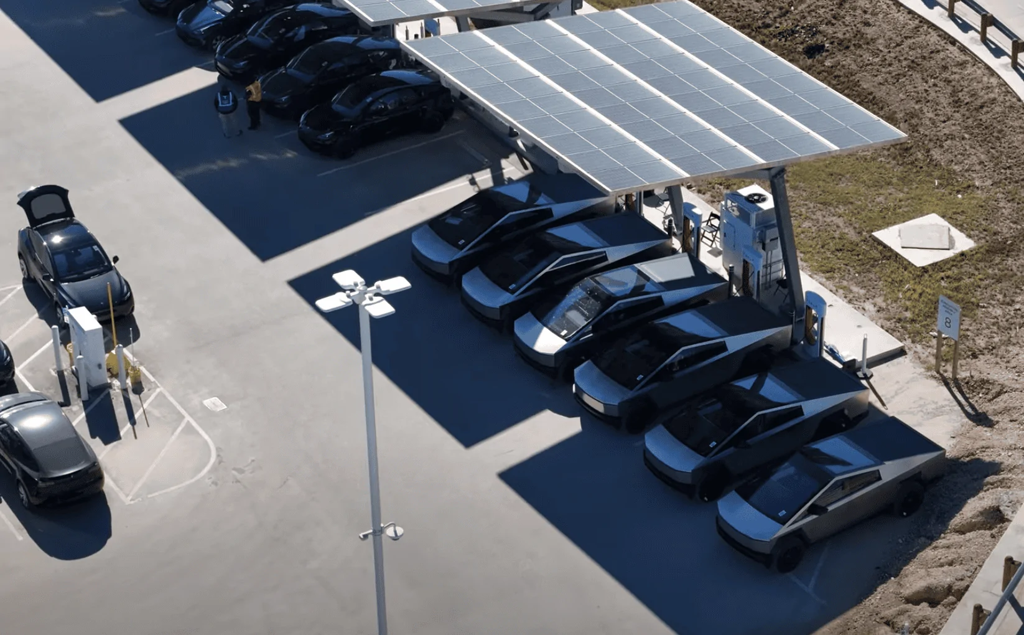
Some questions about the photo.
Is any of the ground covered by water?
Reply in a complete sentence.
No, there is no water in the image.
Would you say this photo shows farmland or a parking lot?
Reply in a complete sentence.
The area seen from above is a parking lot.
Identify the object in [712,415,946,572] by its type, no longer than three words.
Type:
truck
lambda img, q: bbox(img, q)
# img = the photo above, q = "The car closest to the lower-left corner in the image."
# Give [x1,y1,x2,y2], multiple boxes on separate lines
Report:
[0,393,107,511]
